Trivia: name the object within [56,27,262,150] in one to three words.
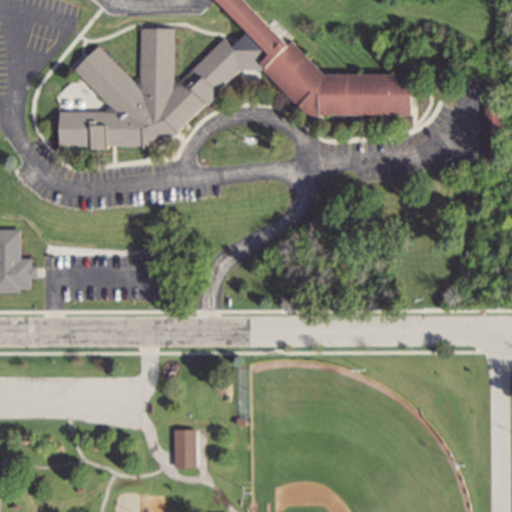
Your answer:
building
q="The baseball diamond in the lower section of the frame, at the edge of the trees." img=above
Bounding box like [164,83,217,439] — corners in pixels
[250,358,474,512]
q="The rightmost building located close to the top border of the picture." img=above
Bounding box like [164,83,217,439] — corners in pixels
[212,0,410,118]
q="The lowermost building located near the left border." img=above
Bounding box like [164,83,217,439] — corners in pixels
[0,230,36,294]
